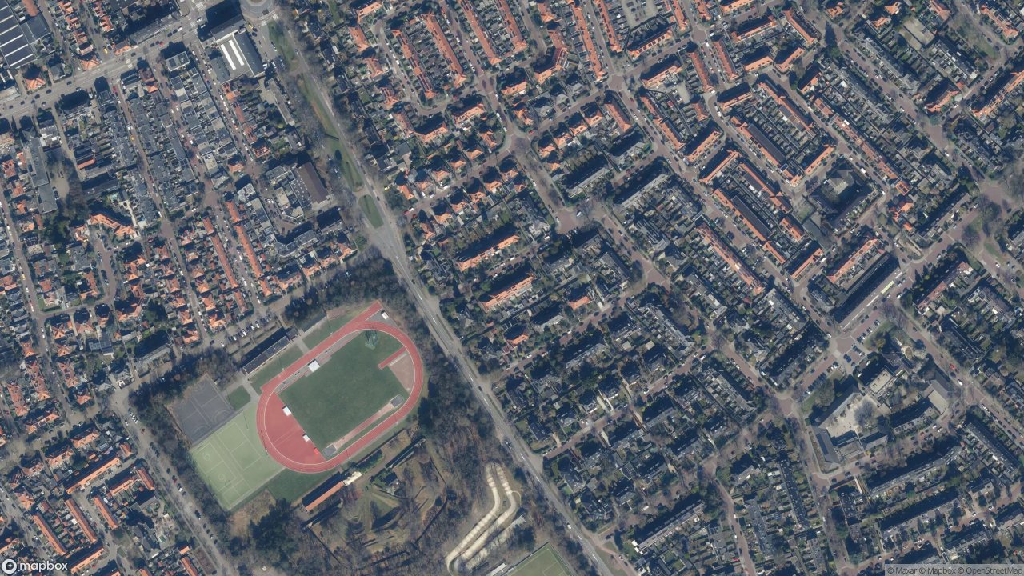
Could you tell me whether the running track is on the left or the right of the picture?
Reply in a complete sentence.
The running track is on the left side of the image.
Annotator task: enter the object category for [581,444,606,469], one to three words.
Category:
house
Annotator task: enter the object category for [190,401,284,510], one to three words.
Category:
sports field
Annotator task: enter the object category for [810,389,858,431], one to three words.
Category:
building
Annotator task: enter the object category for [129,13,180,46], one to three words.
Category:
building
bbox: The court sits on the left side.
[171,375,235,446]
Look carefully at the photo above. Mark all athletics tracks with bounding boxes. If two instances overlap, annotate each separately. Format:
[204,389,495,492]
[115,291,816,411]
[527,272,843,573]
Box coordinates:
[256,300,423,473]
